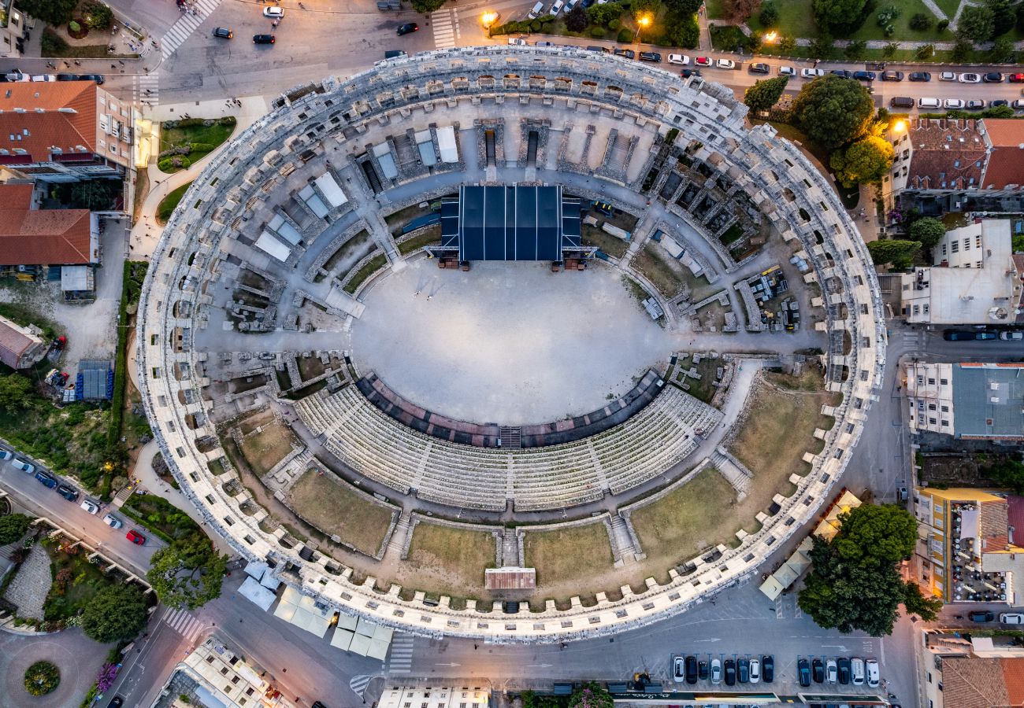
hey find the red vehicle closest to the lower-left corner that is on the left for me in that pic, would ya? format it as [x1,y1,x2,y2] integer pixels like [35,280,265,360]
[125,528,147,545]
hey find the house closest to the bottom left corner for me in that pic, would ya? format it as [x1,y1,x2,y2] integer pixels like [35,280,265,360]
[150,638,263,708]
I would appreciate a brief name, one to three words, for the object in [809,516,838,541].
tent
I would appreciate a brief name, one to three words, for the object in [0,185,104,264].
house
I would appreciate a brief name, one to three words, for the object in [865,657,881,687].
vehicle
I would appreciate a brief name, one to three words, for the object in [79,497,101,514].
car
